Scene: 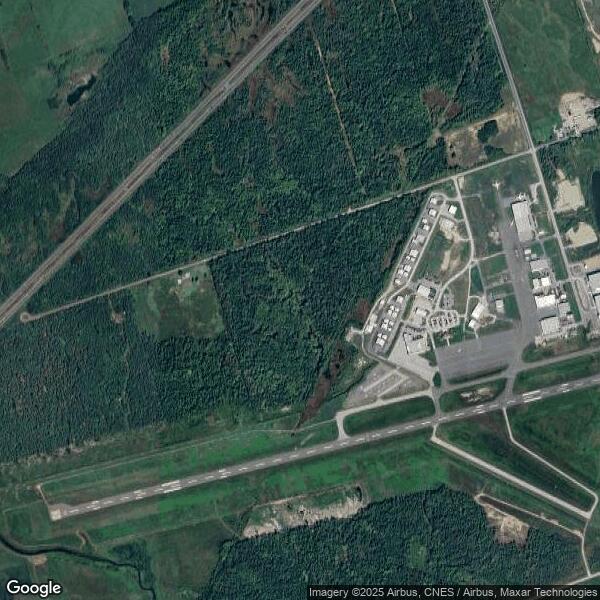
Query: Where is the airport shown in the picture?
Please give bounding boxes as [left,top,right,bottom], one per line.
[49,193,600,520]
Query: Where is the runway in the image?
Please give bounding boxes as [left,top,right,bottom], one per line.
[58,374,600,520]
